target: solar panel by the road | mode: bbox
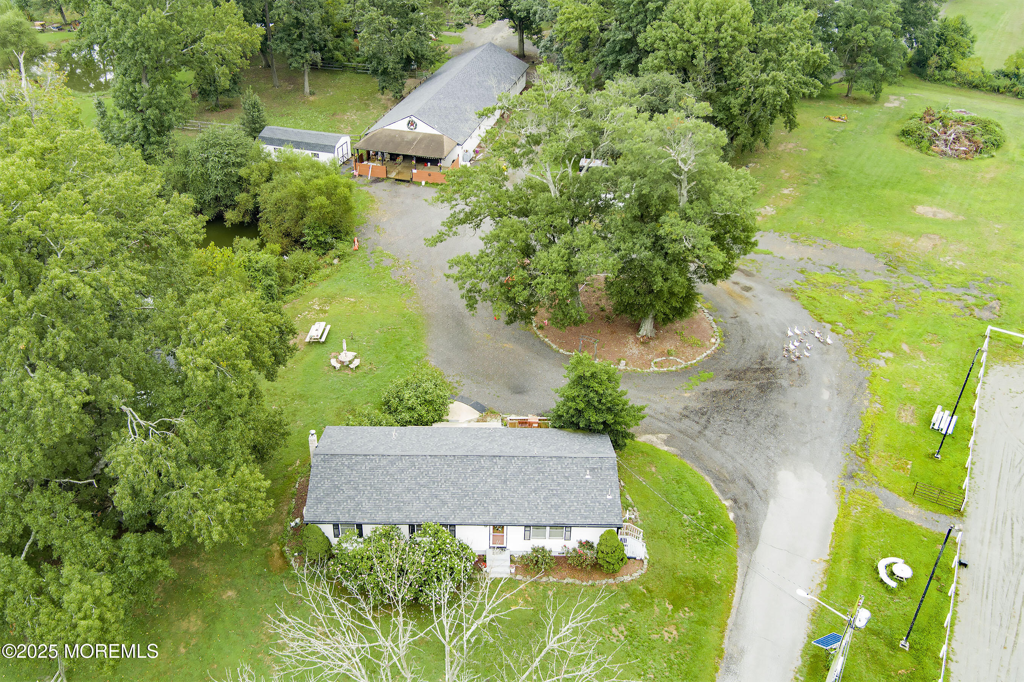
[811,631,842,666]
